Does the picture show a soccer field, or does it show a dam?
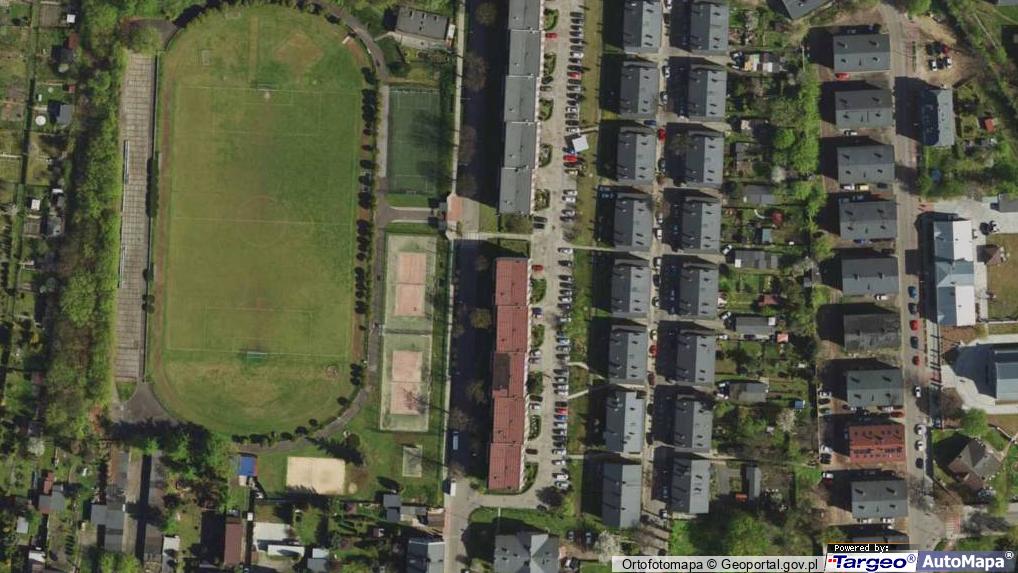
soccer field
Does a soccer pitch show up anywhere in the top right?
No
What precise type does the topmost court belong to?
tennis court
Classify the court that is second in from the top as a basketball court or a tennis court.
tennis court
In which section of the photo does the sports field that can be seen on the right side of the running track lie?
top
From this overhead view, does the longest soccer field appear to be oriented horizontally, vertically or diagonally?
vertically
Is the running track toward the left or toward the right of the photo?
left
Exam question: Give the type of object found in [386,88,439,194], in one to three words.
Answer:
sports field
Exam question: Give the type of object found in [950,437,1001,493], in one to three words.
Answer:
house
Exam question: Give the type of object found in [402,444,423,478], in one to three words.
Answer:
basketball court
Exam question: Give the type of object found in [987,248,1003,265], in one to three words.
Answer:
gazebo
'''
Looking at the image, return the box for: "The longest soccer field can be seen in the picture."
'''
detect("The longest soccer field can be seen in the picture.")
[148,3,362,434]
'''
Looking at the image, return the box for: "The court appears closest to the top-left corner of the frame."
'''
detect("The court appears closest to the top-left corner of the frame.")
[384,235,437,331]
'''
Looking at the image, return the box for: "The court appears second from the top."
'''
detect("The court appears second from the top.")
[379,335,431,431]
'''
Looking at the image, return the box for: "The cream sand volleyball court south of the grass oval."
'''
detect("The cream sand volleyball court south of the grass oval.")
[286,458,344,495]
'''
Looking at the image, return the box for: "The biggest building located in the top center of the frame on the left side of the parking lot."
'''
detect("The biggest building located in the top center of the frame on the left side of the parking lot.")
[395,7,448,40]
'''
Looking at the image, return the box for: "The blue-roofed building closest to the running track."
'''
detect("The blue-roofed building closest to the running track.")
[241,456,257,477]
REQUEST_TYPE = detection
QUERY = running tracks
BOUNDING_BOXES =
[152,8,371,430]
